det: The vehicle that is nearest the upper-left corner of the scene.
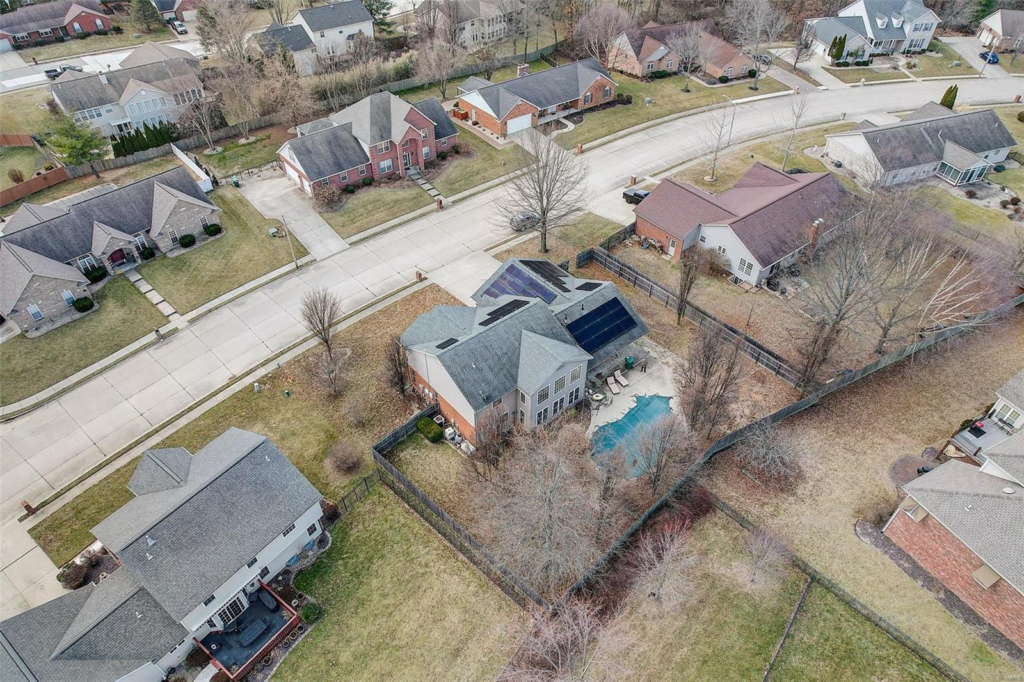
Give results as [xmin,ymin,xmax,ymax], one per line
[45,63,79,77]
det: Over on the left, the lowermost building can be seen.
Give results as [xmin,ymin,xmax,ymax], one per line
[0,428,324,682]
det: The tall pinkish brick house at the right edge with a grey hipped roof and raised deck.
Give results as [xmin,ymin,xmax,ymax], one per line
[882,376,1024,667]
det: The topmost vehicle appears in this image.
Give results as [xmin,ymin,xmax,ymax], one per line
[171,20,186,33]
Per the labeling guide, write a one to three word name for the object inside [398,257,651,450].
house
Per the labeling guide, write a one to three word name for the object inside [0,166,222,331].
house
